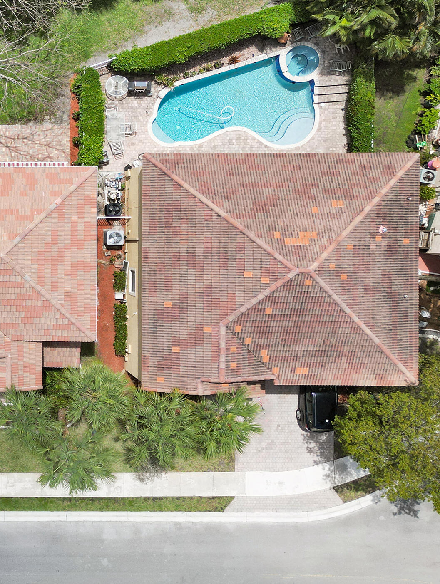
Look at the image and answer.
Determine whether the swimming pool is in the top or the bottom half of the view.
top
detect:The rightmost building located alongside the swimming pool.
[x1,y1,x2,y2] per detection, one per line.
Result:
[125,151,421,396]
